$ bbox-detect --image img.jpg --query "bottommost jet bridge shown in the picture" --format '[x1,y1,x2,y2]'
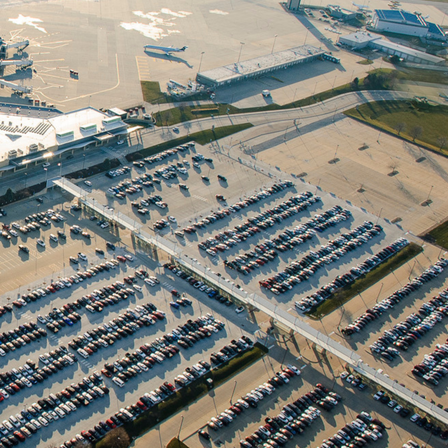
[0,77,34,95]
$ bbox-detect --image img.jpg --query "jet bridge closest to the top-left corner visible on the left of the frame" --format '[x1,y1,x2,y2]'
[2,39,32,52]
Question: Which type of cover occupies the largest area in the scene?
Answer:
paved ground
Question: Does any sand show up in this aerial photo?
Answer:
No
